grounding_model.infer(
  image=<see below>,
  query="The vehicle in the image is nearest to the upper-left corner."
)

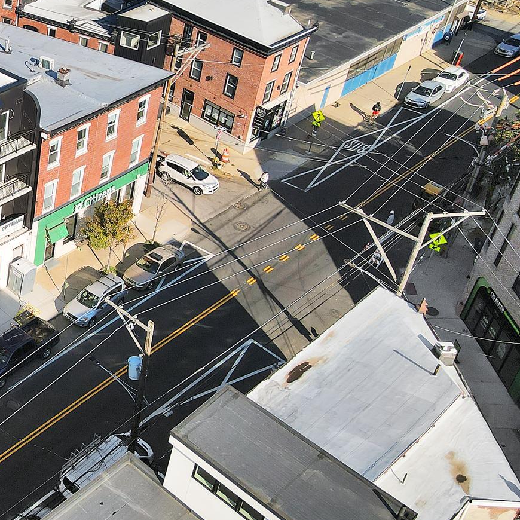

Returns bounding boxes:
[158,155,221,195]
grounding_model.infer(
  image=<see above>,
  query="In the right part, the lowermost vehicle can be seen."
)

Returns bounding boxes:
[414,169,454,212]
